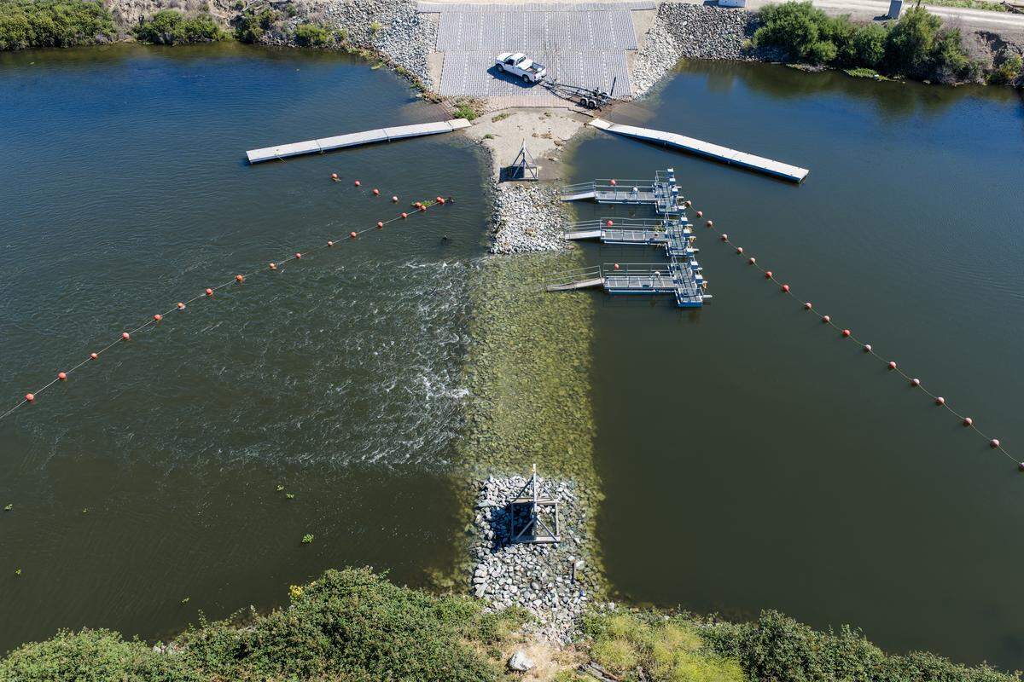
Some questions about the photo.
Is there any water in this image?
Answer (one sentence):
Yes, some water is visible.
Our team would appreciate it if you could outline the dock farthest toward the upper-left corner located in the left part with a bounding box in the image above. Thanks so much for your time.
[248,119,472,165]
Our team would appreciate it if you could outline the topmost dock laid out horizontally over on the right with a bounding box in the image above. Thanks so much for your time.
[585,118,807,183]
